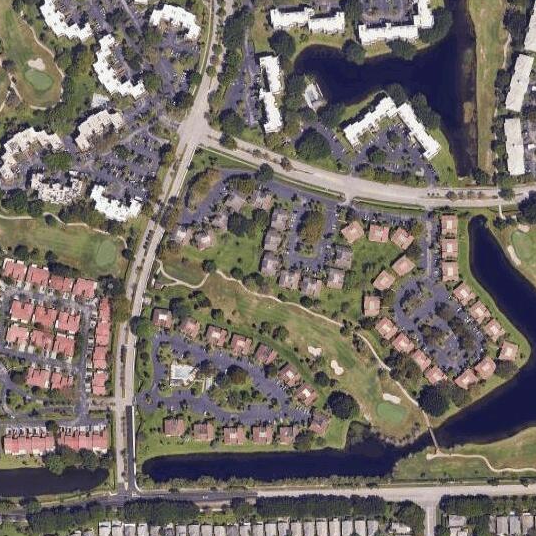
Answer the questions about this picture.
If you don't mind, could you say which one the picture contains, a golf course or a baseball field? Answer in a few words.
golf course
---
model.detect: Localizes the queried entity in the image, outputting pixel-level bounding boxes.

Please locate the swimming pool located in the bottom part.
[171,362,198,385]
